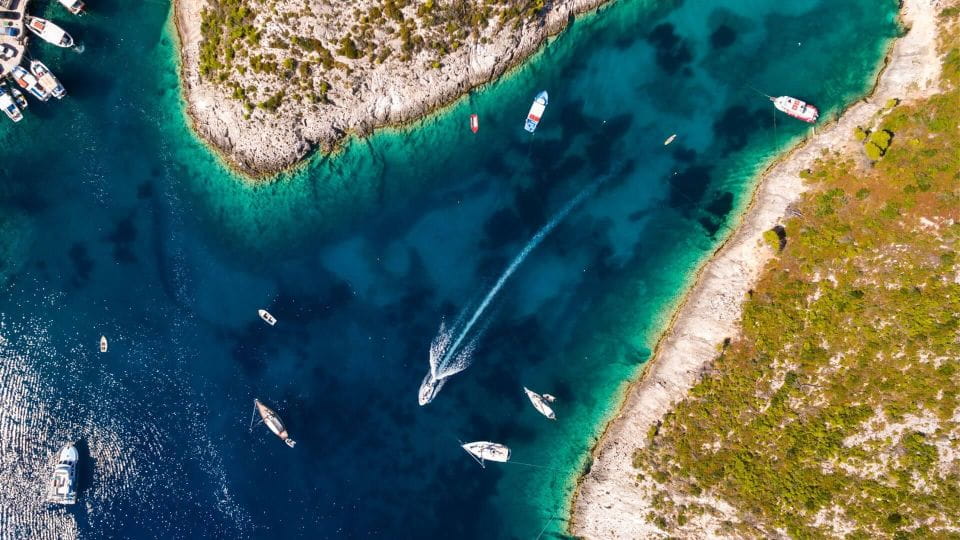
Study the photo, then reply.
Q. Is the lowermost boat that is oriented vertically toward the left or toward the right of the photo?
left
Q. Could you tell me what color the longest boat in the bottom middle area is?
white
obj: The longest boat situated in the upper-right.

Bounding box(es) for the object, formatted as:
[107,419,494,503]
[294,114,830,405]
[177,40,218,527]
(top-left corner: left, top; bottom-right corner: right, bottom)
[754,89,821,127]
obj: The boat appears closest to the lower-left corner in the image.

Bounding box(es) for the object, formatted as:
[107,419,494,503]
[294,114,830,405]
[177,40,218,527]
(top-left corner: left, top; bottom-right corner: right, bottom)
[51,430,81,504]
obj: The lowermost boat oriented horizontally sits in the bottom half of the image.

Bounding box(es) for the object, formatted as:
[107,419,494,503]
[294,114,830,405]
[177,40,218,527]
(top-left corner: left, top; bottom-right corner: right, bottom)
[459,442,577,474]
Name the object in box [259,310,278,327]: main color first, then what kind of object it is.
white boat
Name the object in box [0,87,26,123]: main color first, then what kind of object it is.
white boat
